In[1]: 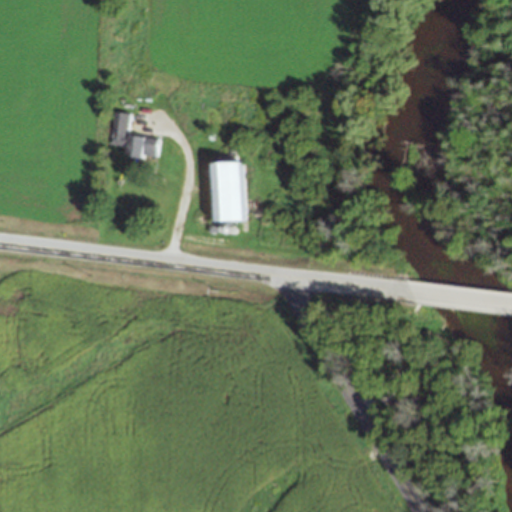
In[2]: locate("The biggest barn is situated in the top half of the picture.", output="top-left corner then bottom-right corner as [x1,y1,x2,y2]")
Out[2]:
[210,162,250,223]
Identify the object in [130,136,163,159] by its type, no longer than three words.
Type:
house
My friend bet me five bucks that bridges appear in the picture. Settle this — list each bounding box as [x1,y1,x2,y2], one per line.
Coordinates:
[408,280,512,314]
